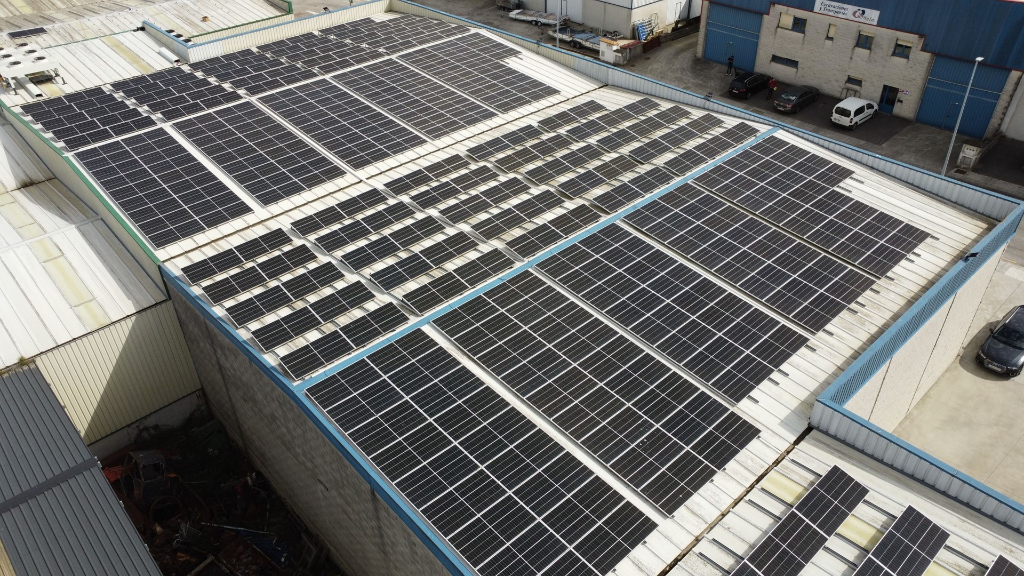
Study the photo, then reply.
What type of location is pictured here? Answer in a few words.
industrial area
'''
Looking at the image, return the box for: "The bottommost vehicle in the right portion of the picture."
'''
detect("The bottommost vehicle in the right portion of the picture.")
[974,307,1024,382]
